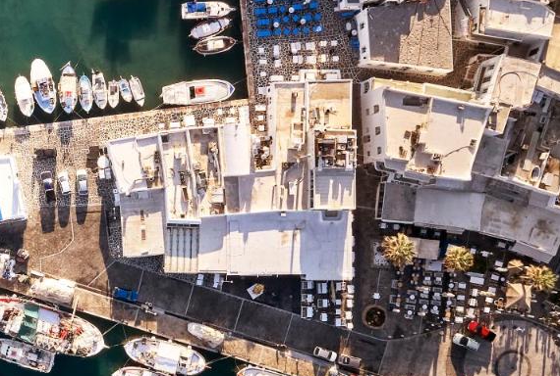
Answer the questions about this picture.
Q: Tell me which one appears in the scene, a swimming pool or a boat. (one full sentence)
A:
Looking from above, you can make out a boat.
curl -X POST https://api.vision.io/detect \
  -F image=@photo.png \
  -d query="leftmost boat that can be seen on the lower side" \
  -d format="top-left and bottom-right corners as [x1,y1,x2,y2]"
[0,343,54,375]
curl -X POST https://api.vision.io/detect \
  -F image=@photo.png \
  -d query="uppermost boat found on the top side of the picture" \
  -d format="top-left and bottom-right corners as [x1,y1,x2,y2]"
[181,0,238,20]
